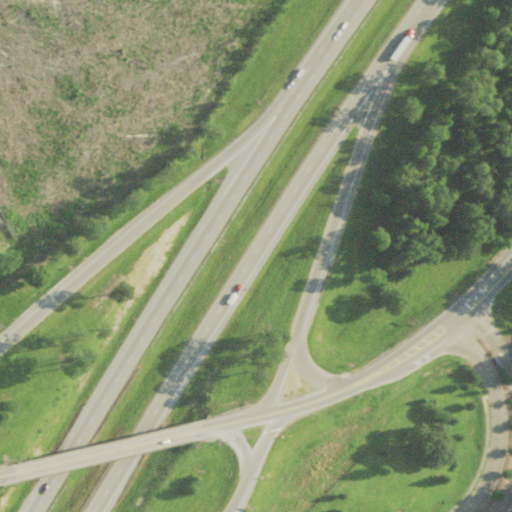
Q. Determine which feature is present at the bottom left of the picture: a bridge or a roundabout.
bridge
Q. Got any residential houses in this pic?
No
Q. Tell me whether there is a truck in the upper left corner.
No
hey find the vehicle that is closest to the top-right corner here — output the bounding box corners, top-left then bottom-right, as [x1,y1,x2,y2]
[390,30,418,64]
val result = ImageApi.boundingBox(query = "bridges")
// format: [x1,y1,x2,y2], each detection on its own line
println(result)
[14,419,210,484]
